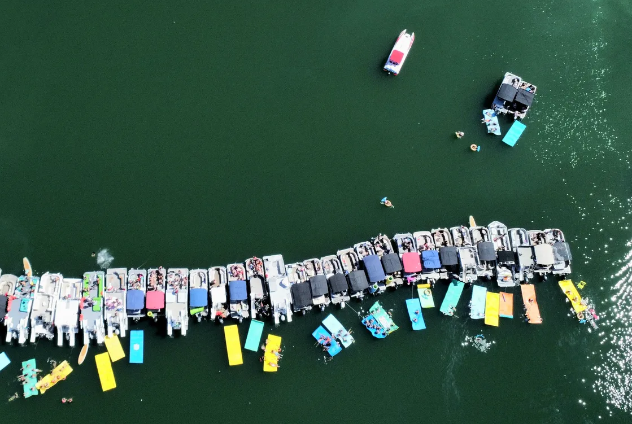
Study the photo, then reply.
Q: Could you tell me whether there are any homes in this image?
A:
No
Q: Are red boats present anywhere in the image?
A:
Yes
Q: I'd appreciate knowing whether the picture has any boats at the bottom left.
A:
Yes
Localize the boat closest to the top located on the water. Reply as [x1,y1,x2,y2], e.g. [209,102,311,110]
[382,30,415,78]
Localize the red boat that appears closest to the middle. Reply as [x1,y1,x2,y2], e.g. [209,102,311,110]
[395,234,422,281]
